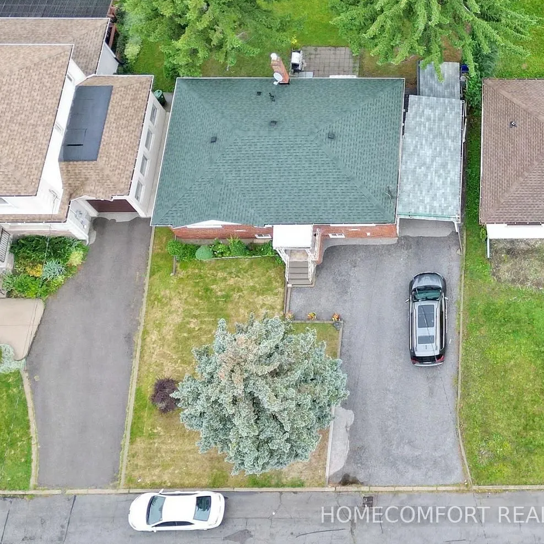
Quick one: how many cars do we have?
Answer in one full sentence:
Altogether the scene contains 2 cars.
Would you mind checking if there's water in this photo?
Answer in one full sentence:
No, water can't be seen anywhere here.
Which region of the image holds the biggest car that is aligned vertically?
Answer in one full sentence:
The biggest car that is aligned vertically sits in the right section of the image.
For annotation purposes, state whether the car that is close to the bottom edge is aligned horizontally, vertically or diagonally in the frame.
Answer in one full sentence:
From this overhead view, the car that is close to the bottom edge appears to run horizontally.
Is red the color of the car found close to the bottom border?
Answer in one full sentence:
No, from above the car found close to the bottom border looks white.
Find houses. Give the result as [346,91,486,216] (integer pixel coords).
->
[0,16,166,245]
[479,77,544,255]
[151,60,407,240]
